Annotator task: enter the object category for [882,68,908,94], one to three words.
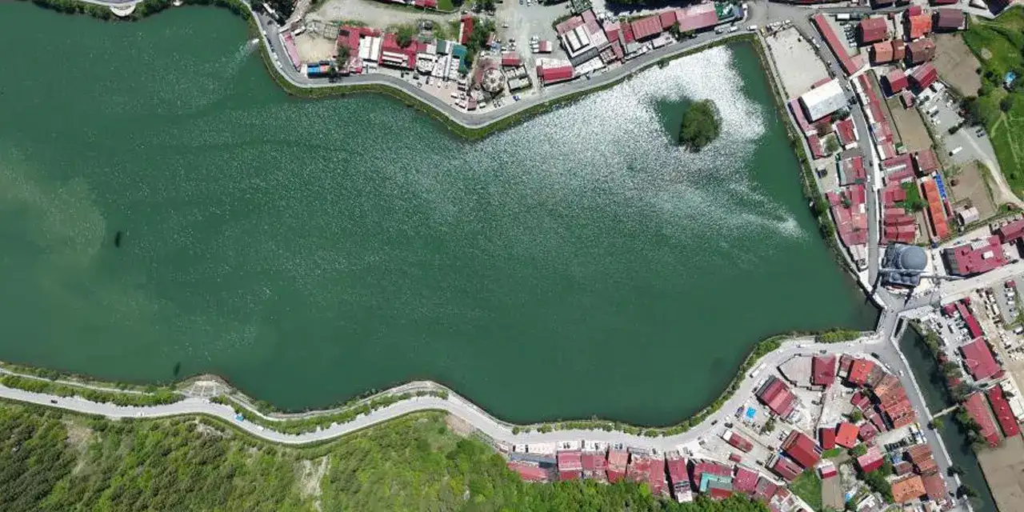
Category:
house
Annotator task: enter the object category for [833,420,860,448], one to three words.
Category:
house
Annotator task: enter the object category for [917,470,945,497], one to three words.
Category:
building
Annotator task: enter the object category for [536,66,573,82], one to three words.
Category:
building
